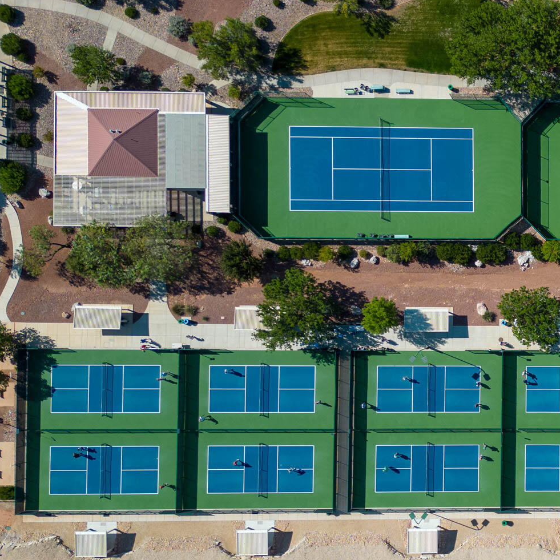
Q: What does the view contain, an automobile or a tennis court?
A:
tennis court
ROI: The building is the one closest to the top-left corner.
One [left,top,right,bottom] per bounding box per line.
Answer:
[46,91,229,226]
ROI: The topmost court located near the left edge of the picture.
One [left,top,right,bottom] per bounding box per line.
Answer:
[27,350,178,431]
